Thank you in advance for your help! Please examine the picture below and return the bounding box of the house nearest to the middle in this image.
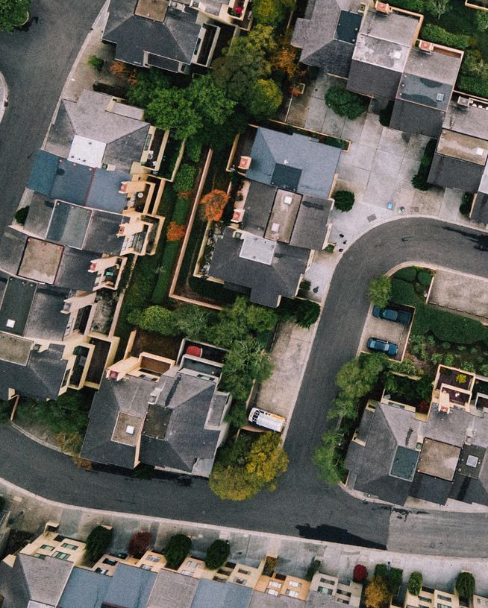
[208,227,311,306]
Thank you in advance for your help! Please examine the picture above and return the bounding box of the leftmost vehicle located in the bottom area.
[247,406,288,434]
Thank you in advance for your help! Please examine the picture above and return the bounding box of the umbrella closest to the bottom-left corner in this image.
[188,344,201,356]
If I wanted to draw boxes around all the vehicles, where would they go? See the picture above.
[367,337,398,355]
[247,406,288,434]
[374,304,412,325]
